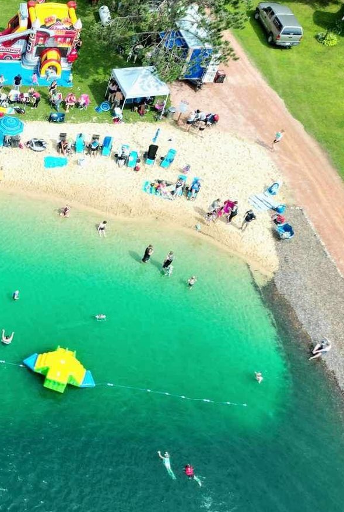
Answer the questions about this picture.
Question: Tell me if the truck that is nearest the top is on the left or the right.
right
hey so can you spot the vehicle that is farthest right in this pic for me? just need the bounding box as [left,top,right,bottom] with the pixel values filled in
[253,0,312,45]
